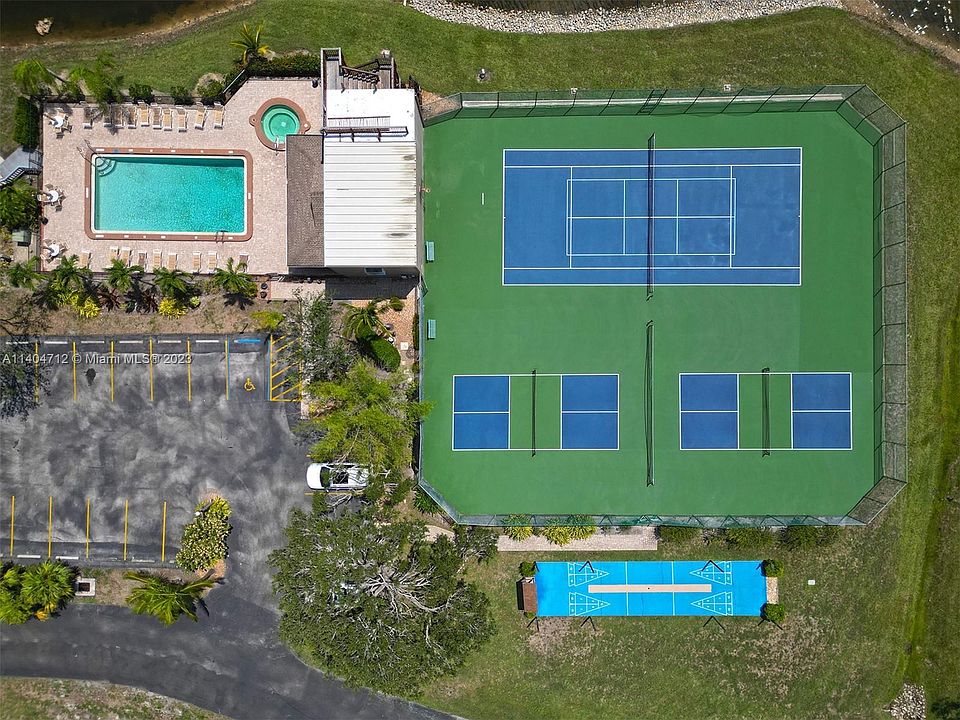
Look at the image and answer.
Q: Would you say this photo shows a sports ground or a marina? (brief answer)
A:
sports ground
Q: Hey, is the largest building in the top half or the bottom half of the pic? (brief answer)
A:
top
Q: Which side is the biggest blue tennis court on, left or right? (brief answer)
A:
right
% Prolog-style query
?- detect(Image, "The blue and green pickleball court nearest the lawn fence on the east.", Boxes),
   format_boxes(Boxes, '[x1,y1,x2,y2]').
[680,373,852,450]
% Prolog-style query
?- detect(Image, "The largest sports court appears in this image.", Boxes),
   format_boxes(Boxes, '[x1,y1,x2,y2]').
[423,99,883,516]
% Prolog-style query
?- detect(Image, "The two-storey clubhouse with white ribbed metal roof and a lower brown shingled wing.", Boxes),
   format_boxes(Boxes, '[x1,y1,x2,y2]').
[287,89,424,277]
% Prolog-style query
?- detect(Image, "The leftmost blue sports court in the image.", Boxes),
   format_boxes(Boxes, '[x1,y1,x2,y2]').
[453,374,619,450]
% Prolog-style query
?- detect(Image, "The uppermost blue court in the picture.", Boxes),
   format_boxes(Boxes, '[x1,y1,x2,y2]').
[502,147,802,286]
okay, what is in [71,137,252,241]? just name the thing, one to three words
swimming pool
